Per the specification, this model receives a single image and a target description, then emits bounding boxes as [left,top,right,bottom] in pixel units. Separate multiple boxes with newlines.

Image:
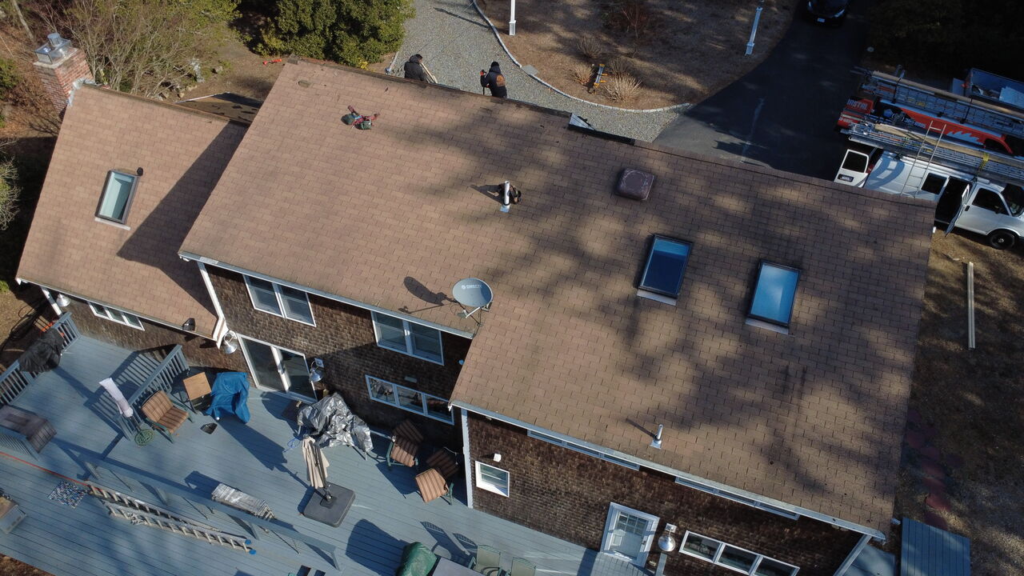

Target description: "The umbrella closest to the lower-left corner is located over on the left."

[104,378,156,449]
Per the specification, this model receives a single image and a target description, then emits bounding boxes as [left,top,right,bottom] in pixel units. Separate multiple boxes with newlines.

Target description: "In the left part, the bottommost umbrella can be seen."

[291,433,348,525]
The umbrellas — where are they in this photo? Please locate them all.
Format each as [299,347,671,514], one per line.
[291,433,348,525]
[104,378,156,449]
